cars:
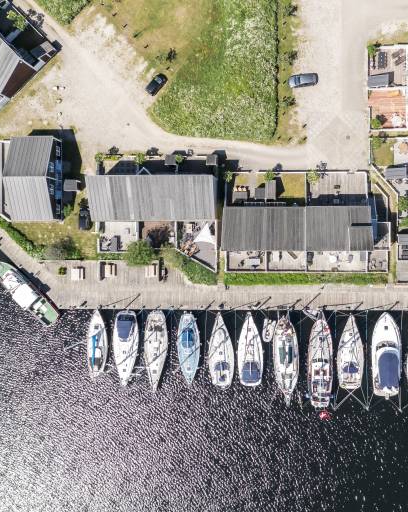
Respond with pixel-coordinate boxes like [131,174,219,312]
[75,207,90,232]
[142,72,167,97]
[288,71,318,87]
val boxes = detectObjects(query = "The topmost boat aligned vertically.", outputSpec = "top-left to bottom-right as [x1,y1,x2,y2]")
[262,310,274,343]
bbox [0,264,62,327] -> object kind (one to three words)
boat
